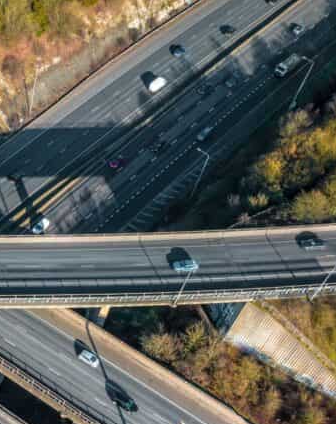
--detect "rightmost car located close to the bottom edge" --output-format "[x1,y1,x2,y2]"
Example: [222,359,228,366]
[112,390,140,412]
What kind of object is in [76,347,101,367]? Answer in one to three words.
car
